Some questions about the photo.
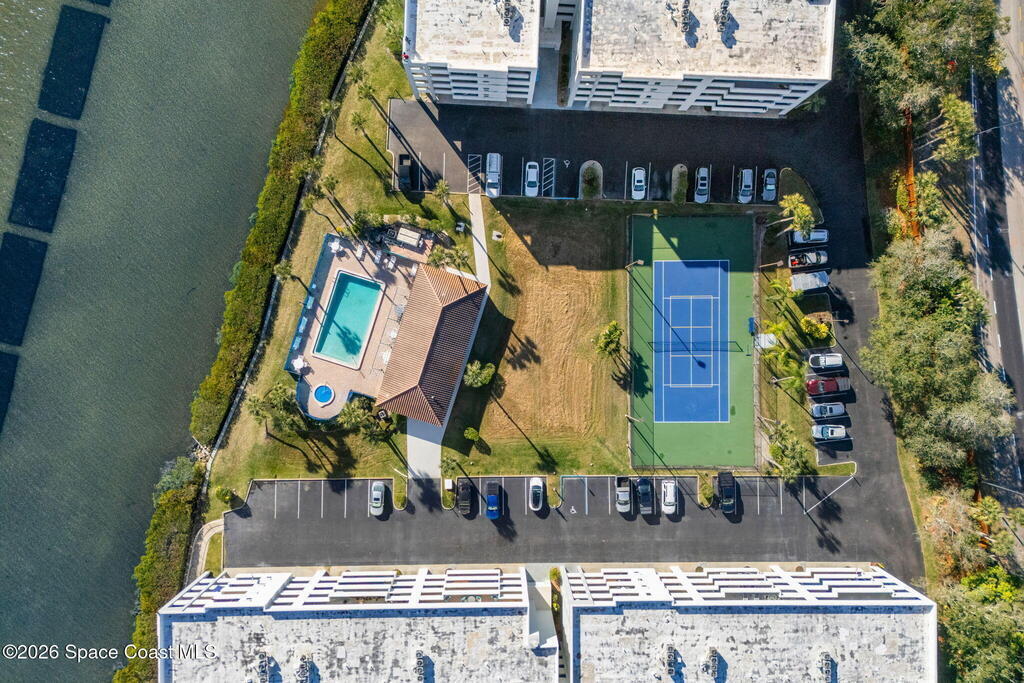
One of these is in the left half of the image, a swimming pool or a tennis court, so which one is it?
swimming pool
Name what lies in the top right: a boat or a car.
car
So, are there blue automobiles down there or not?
Yes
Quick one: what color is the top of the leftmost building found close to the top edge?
white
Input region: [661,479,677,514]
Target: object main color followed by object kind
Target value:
white car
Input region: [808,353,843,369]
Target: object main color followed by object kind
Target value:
white car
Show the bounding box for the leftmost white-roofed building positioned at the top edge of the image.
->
[402,0,542,109]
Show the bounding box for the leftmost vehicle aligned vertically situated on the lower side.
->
[369,481,385,516]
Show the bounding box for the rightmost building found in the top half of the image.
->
[567,0,836,118]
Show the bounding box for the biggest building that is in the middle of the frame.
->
[376,263,487,427]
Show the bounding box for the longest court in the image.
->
[626,213,764,472]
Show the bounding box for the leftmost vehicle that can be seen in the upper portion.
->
[397,153,412,191]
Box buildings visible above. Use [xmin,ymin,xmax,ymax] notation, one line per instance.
[376,263,487,427]
[567,0,836,118]
[402,0,542,109]
[560,566,938,683]
[397,228,422,246]
[156,567,530,683]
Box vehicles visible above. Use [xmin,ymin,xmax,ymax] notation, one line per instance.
[485,152,502,198]
[693,168,710,203]
[616,475,631,513]
[369,481,385,516]
[524,162,539,197]
[737,169,754,204]
[811,402,845,418]
[397,153,412,191]
[529,477,544,511]
[761,169,777,202]
[661,479,677,514]
[787,251,828,268]
[808,353,843,369]
[631,167,646,200]
[718,471,736,514]
[637,477,653,515]
[811,424,846,440]
[792,229,828,245]
[485,479,501,520]
[457,479,472,513]
[806,378,851,395]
